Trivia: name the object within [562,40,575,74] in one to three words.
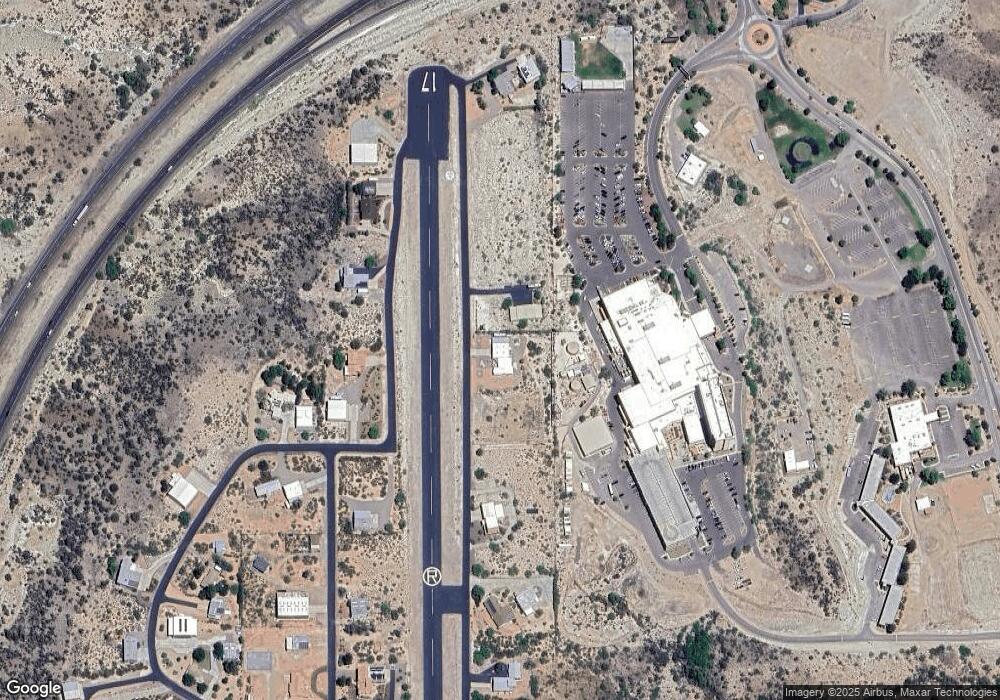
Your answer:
barn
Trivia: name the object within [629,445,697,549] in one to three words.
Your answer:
building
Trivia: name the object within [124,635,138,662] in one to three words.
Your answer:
shed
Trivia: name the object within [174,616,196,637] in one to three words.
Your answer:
house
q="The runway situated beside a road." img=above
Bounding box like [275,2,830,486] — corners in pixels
[395,63,473,700]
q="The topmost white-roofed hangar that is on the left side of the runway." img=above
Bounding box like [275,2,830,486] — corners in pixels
[352,144,377,164]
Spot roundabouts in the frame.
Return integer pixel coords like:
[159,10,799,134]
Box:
[739,15,782,59]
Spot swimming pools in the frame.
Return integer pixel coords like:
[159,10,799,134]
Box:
[879,482,899,504]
